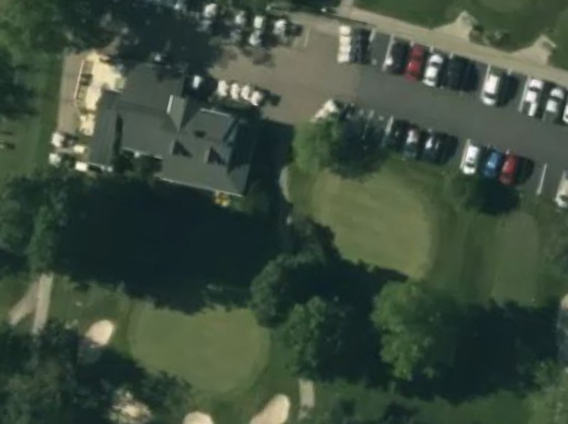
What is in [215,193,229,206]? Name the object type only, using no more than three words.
umbrella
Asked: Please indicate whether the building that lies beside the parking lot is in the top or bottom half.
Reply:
top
